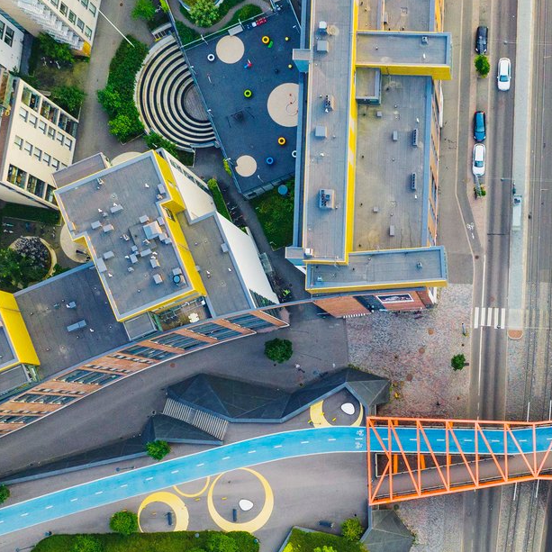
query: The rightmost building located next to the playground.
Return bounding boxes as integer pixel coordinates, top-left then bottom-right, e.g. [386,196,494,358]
[285,0,453,319]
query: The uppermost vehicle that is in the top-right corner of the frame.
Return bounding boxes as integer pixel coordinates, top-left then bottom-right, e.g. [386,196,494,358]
[474,24,490,59]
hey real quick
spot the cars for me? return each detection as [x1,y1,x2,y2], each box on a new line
[470,142,487,178]
[496,56,513,92]
[474,24,490,59]
[471,109,487,143]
